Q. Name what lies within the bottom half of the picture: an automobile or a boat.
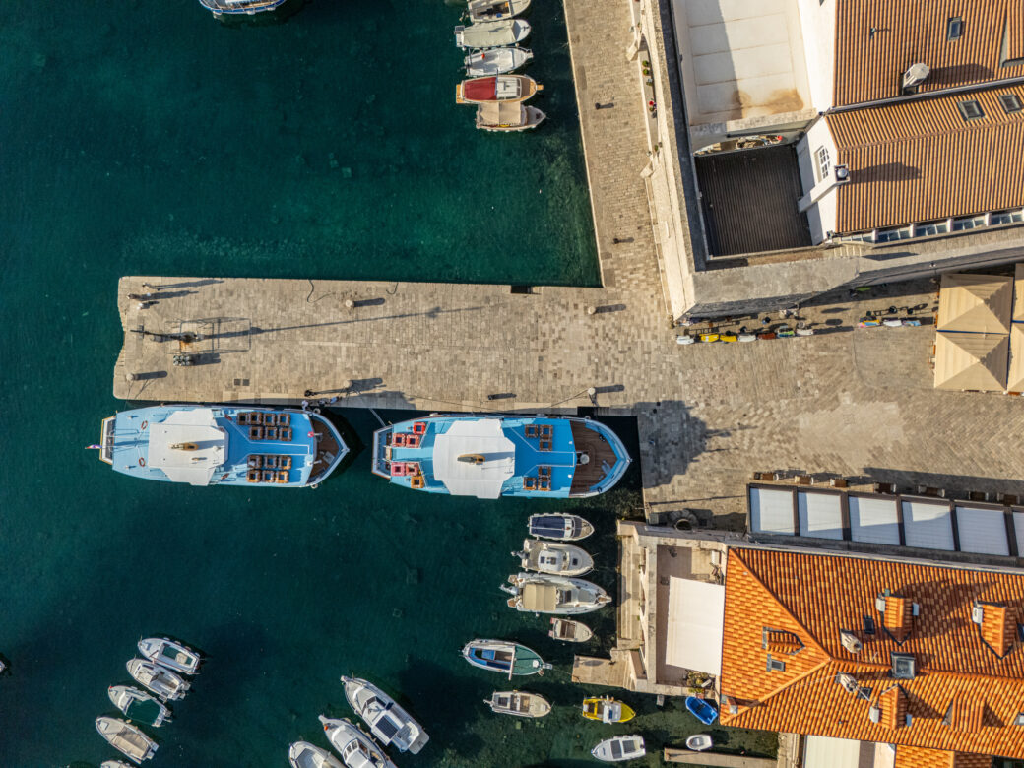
boat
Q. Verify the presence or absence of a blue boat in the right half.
Yes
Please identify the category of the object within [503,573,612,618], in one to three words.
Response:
boat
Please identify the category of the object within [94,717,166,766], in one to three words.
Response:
boat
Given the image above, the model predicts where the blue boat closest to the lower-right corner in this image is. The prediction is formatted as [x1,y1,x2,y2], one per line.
[688,697,718,726]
